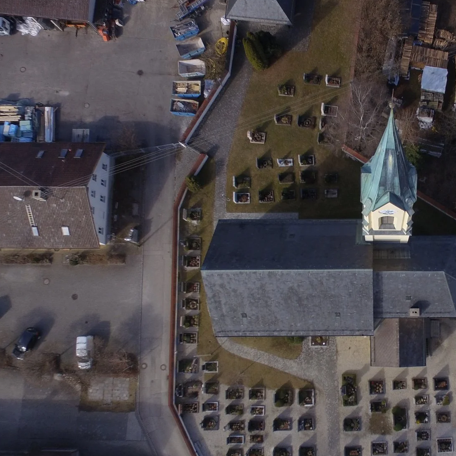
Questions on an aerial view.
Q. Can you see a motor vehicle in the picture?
Yes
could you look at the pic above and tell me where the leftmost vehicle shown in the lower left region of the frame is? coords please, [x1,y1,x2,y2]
[12,327,42,360]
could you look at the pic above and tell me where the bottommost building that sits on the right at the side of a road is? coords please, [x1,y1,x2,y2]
[201,92,456,368]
